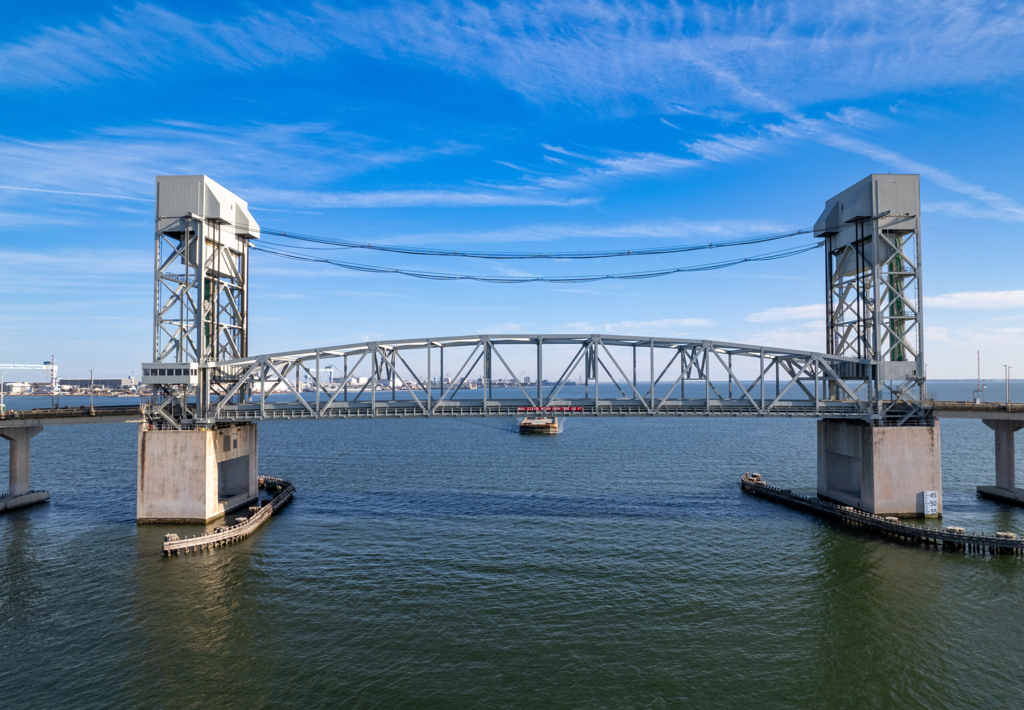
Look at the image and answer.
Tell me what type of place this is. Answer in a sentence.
The area seen from above is a port.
